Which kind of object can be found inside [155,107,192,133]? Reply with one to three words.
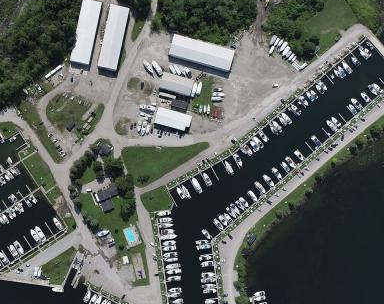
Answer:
building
